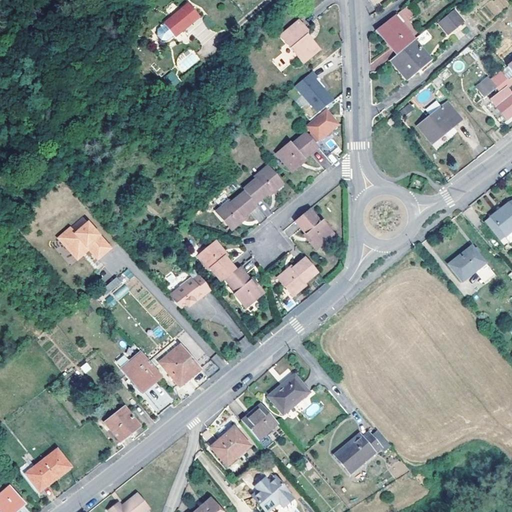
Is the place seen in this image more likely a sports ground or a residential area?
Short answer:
residential area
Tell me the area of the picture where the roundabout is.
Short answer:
right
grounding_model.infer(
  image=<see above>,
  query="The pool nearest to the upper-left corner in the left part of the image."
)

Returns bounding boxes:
[178,54,199,72]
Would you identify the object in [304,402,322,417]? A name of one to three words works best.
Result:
swimming pool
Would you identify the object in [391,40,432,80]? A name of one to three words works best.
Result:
house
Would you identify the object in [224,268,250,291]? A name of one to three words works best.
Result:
building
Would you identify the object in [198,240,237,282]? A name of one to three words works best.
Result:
house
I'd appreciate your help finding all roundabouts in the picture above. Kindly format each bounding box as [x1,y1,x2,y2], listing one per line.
[352,175,438,260]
